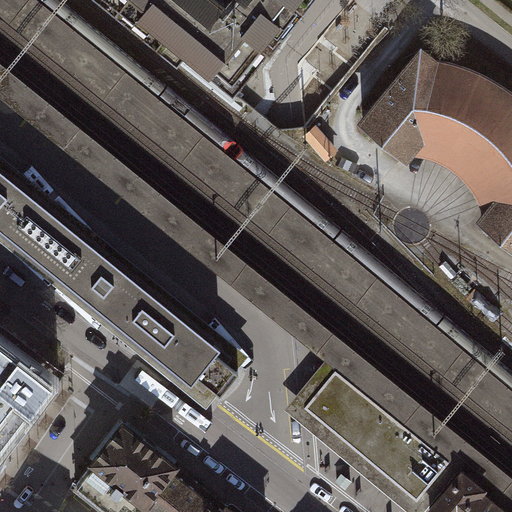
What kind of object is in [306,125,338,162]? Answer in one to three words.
shed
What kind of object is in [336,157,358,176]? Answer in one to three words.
vehicle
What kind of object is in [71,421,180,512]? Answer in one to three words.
house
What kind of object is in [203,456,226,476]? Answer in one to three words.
car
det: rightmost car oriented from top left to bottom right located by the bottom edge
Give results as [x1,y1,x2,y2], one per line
[310,483,332,504]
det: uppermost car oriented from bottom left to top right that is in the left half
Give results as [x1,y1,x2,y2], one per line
[48,420,65,441]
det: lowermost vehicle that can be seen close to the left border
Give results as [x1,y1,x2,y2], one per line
[13,486,34,509]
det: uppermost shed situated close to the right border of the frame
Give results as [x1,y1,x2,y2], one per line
[356,50,512,258]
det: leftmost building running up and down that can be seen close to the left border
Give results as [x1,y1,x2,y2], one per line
[0,334,60,470]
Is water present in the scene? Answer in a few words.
No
